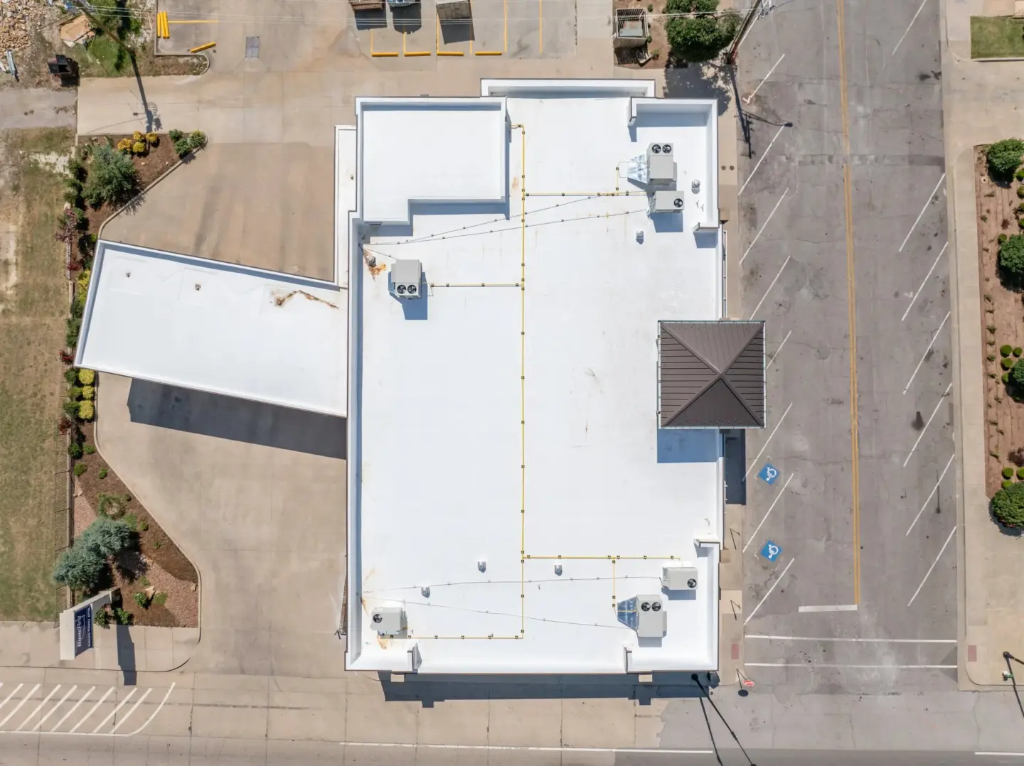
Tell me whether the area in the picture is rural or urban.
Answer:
urban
